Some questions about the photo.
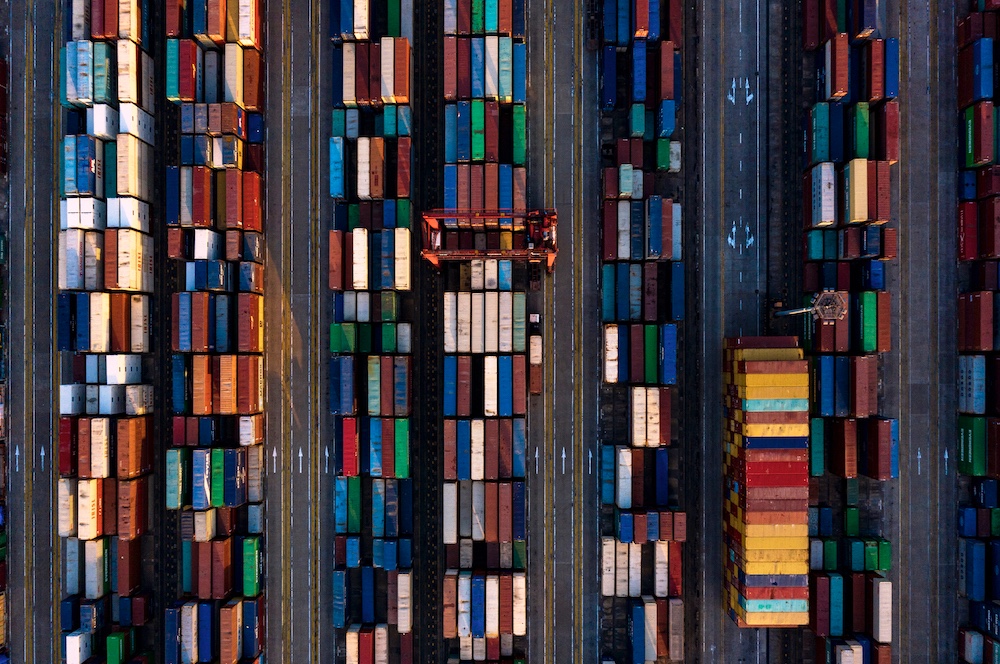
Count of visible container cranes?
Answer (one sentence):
The count comes to 1 container crane.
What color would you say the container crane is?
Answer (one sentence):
In this view, the container crane is red.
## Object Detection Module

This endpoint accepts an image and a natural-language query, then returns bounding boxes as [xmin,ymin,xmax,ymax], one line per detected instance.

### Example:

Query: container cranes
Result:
[420,211,561,273]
